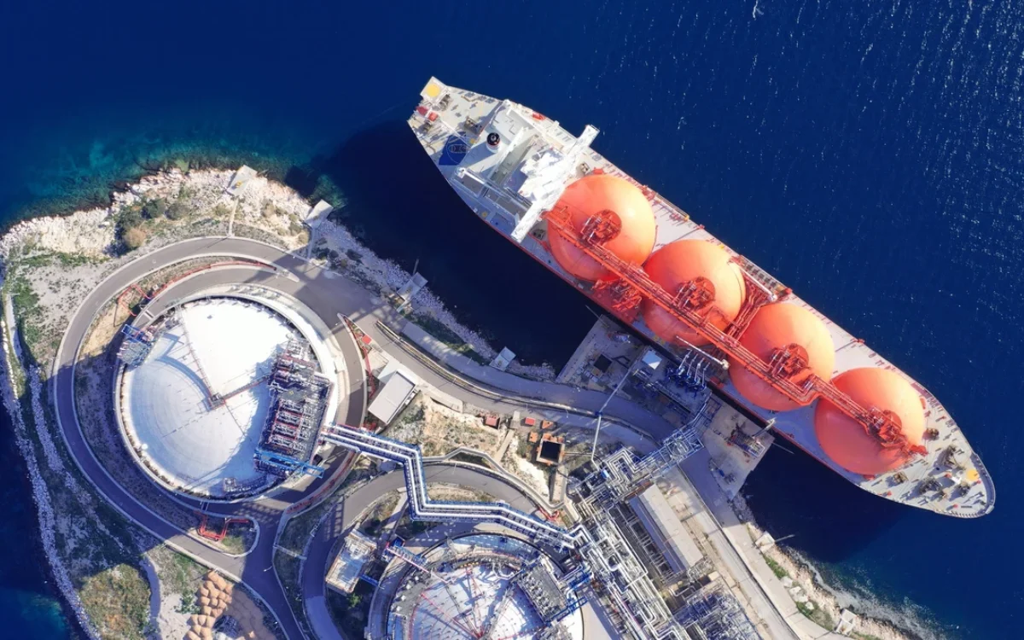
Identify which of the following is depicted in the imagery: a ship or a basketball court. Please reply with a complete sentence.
Looking from above, you can make out a ship.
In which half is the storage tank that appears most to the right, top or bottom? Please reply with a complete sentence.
Seen from above, the storage tank that appears most to the right lies in the bottom half of the view.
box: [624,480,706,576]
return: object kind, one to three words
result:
building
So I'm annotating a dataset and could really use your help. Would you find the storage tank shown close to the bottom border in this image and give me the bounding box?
[385,531,594,640]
